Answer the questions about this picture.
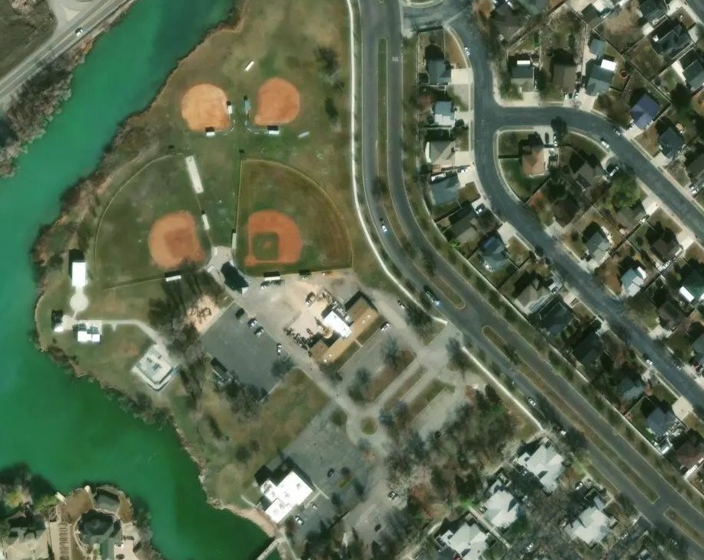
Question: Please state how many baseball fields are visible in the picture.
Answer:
4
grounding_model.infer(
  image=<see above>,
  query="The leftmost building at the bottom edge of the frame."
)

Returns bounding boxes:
[7,528,49,560]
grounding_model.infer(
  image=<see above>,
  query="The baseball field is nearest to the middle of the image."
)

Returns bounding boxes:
[235,160,353,278]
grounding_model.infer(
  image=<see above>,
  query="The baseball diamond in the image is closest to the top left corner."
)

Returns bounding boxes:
[181,82,234,135]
